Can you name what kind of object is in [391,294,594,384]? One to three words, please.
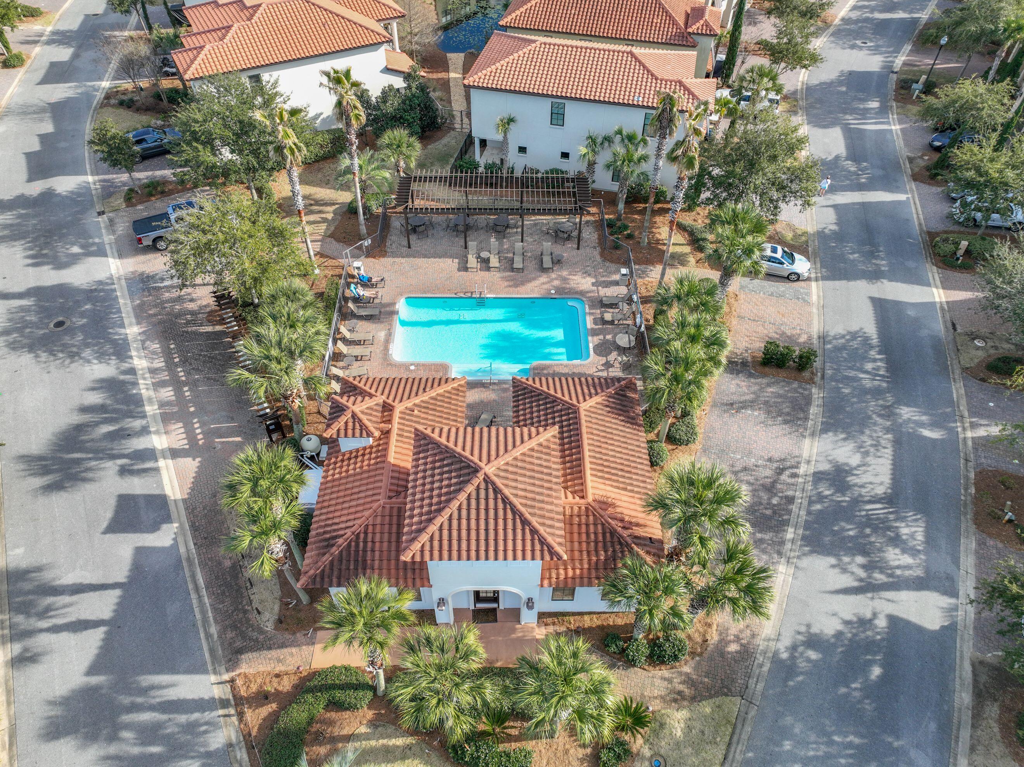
swimming pool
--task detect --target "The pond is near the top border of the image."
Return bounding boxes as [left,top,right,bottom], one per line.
[435,0,519,56]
